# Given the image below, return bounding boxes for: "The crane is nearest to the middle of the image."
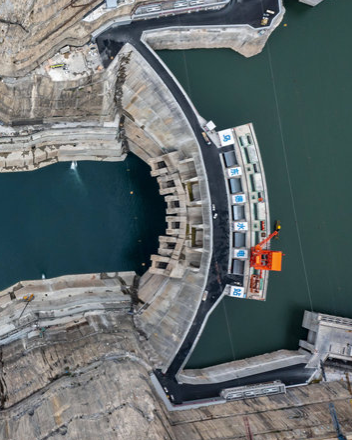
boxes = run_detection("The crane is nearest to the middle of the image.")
[251,224,286,276]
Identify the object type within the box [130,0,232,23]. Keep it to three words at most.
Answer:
building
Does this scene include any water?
Yes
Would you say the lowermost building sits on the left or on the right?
right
